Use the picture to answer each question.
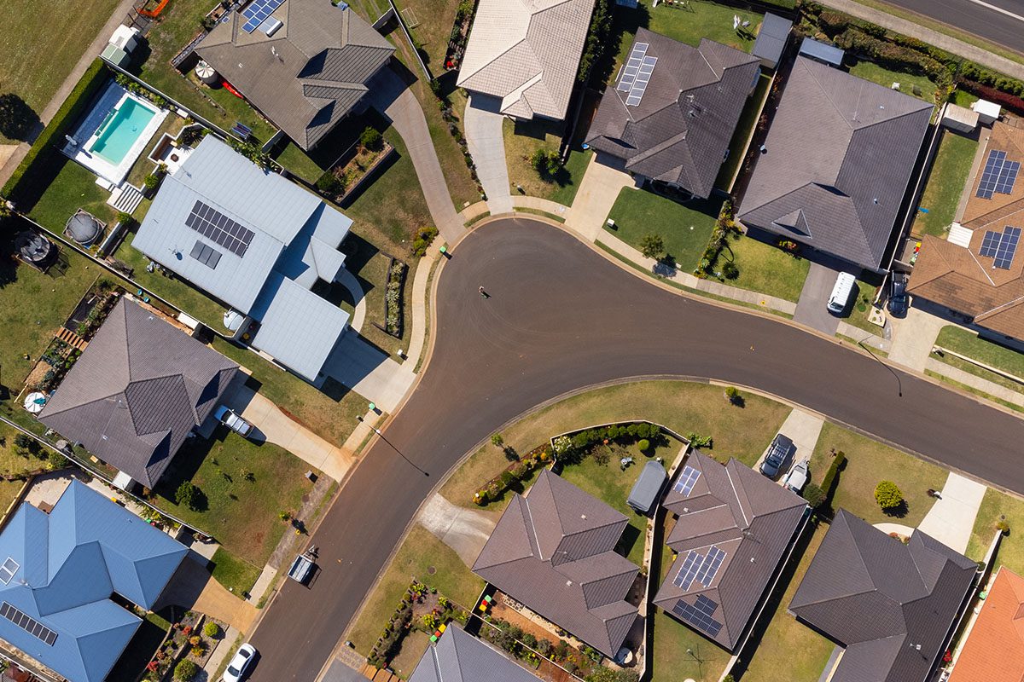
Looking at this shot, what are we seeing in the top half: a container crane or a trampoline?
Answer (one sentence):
You can see a trampoline in the top half.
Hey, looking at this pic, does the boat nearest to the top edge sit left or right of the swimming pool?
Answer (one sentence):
The boat nearest to the top edge can be seen on the right of the swimming pool.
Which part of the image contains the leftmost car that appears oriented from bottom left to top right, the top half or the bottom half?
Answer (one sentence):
You can find the leftmost car that appears oriented from bottom left to top right in the bottom half.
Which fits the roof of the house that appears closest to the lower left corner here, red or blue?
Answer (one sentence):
The roof of the house that appears closest to the lower left corner is blue.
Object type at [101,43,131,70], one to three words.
building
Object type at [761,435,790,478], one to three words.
vehicle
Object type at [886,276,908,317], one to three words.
vehicle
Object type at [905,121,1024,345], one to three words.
house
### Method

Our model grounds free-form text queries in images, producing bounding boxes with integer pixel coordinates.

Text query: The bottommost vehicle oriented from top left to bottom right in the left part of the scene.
[214,406,258,440]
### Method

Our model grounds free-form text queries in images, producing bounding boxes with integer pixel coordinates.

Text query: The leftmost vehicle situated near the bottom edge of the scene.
[222,642,259,682]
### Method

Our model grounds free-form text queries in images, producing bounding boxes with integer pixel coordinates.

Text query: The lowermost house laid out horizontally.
[408,622,551,682]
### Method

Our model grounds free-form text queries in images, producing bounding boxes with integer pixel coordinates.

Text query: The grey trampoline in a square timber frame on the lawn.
[63,207,107,247]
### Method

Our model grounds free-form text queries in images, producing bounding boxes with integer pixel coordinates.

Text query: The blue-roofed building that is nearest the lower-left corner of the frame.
[0,479,190,682]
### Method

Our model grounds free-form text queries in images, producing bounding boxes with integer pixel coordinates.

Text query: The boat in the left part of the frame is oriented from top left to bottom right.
[219,77,244,99]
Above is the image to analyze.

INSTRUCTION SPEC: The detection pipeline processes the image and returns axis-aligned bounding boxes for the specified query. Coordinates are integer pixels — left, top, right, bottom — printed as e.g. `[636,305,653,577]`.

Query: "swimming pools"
[64,81,170,186]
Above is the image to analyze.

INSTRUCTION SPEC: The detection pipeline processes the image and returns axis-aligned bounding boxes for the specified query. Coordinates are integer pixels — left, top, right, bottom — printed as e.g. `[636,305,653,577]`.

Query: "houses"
[905,121,1024,345]
[456,0,595,123]
[0,479,190,682]
[37,296,240,489]
[408,622,551,682]
[471,468,641,658]
[614,0,638,15]
[652,448,809,651]
[737,54,934,271]
[131,133,354,381]
[584,26,762,200]
[944,565,1024,682]
[194,0,396,152]
[788,507,980,682]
